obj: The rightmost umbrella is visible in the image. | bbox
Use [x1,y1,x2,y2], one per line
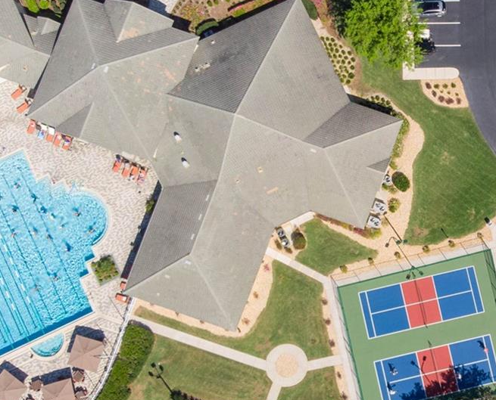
[67,335,104,372]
